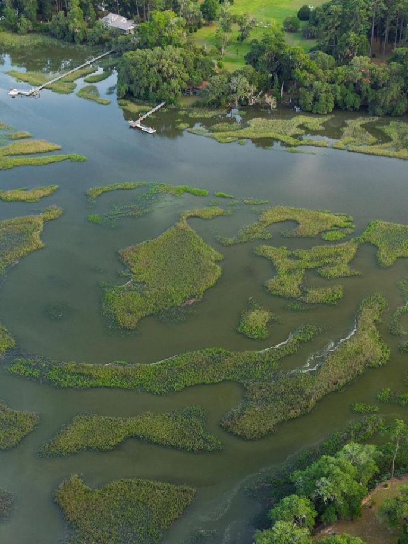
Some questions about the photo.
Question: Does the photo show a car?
No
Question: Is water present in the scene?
Yes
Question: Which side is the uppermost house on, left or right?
left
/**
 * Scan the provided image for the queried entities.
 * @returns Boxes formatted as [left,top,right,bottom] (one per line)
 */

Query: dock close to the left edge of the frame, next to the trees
[16,49,119,97]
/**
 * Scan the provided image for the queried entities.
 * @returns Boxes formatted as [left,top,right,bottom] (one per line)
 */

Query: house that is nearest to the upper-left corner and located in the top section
[97,19,139,40]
